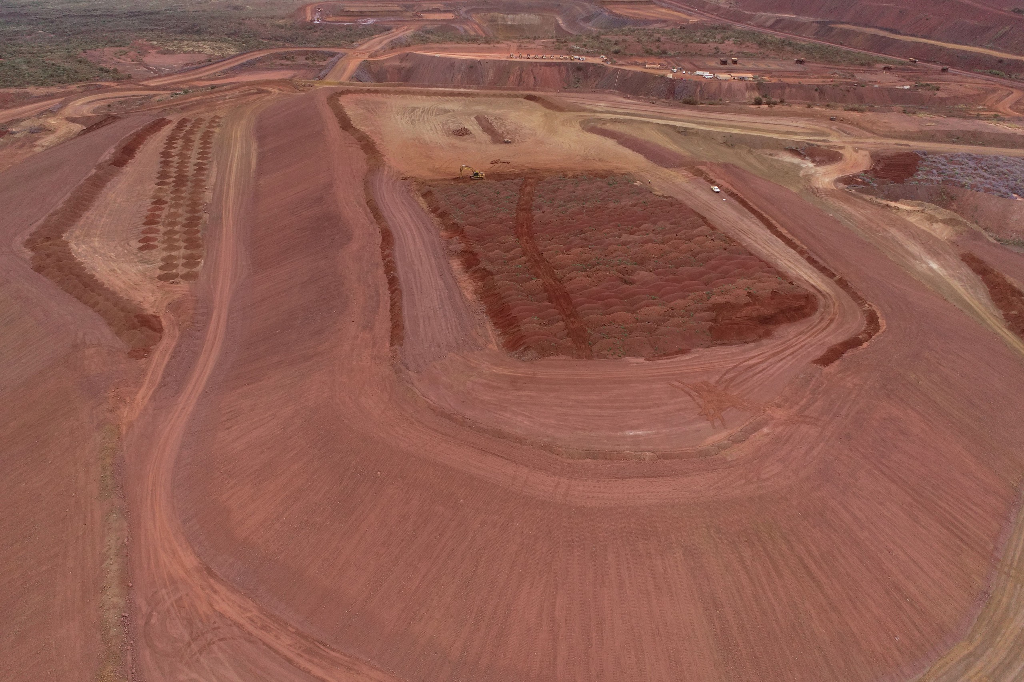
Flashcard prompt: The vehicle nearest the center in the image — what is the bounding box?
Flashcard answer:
[459,163,485,180]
